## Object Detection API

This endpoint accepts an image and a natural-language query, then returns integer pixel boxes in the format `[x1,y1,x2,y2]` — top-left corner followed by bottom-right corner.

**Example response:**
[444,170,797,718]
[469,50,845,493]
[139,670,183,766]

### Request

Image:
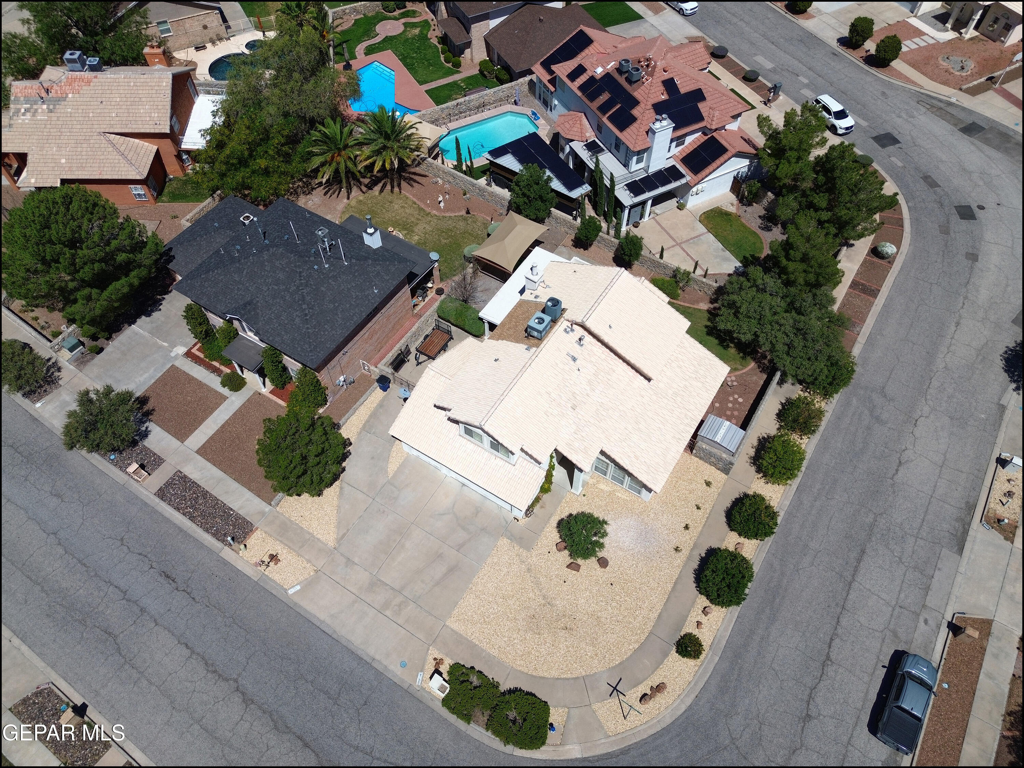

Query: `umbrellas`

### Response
[512,86,522,108]
[342,52,353,70]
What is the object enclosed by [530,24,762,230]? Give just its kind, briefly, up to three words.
house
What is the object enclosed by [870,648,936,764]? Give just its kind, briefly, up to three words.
truck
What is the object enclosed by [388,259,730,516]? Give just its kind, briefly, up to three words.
house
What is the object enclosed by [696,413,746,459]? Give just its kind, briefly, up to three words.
shed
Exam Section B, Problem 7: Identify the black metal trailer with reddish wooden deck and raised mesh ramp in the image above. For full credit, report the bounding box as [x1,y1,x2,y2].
[415,319,453,367]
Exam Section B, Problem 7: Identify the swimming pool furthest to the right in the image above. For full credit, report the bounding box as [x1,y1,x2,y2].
[436,109,542,163]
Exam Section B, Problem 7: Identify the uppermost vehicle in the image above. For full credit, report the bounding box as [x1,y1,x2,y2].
[666,0,703,20]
